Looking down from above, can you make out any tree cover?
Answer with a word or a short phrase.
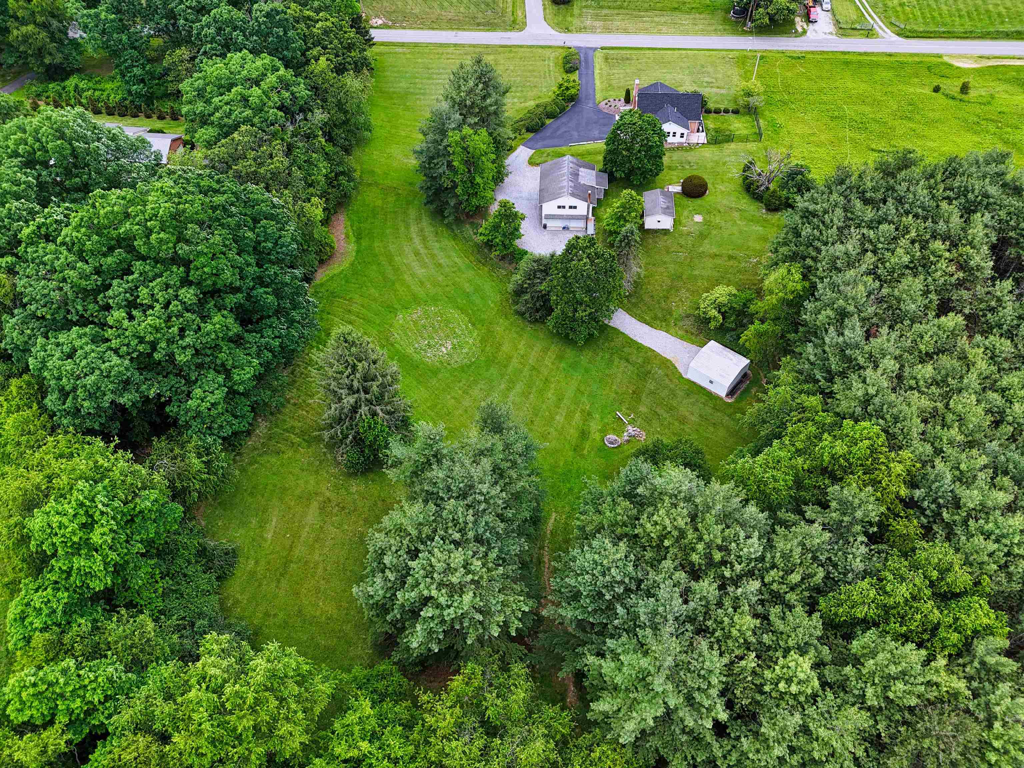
Yes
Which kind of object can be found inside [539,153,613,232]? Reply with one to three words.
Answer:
building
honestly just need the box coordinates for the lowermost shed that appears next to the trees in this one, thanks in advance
[686,339,751,397]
